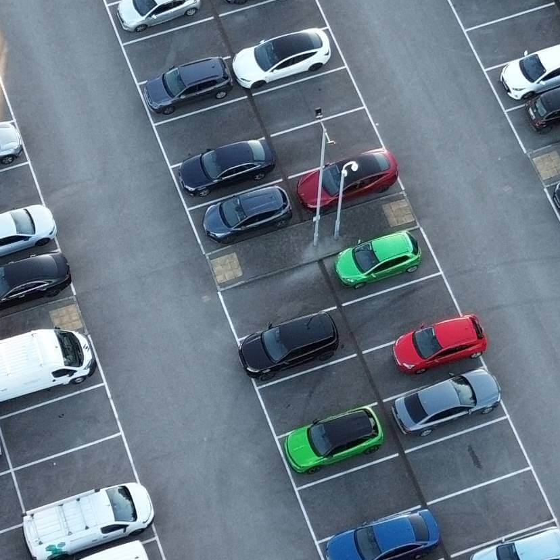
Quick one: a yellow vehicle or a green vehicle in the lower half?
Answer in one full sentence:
Looking in the lower half, you will find a green vehicle.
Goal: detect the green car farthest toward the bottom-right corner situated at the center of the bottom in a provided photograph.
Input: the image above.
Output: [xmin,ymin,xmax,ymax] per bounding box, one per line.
[283,408,388,477]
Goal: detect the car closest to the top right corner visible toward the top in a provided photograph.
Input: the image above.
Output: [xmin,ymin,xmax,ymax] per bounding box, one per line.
[497,43,560,99]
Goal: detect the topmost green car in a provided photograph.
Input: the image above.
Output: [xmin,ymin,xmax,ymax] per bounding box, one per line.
[333,226,424,287]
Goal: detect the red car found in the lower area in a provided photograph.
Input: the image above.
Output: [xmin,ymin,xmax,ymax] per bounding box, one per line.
[391,313,491,377]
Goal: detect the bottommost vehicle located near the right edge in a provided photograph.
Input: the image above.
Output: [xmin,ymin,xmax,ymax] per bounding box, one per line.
[466,522,560,560]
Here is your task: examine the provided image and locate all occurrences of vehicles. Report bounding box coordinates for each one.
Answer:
[325,504,445,560]
[391,313,491,377]
[497,43,560,99]
[389,365,504,435]
[0,206,59,259]
[115,0,203,32]
[176,139,279,202]
[0,121,25,162]
[19,474,157,560]
[201,185,296,247]
[333,226,424,287]
[295,145,402,212]
[0,247,76,310]
[283,408,388,477]
[229,26,335,90]
[235,307,344,378]
[143,56,235,118]
[466,522,560,560]
[0,322,99,404]
[65,535,151,560]
[523,88,560,137]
